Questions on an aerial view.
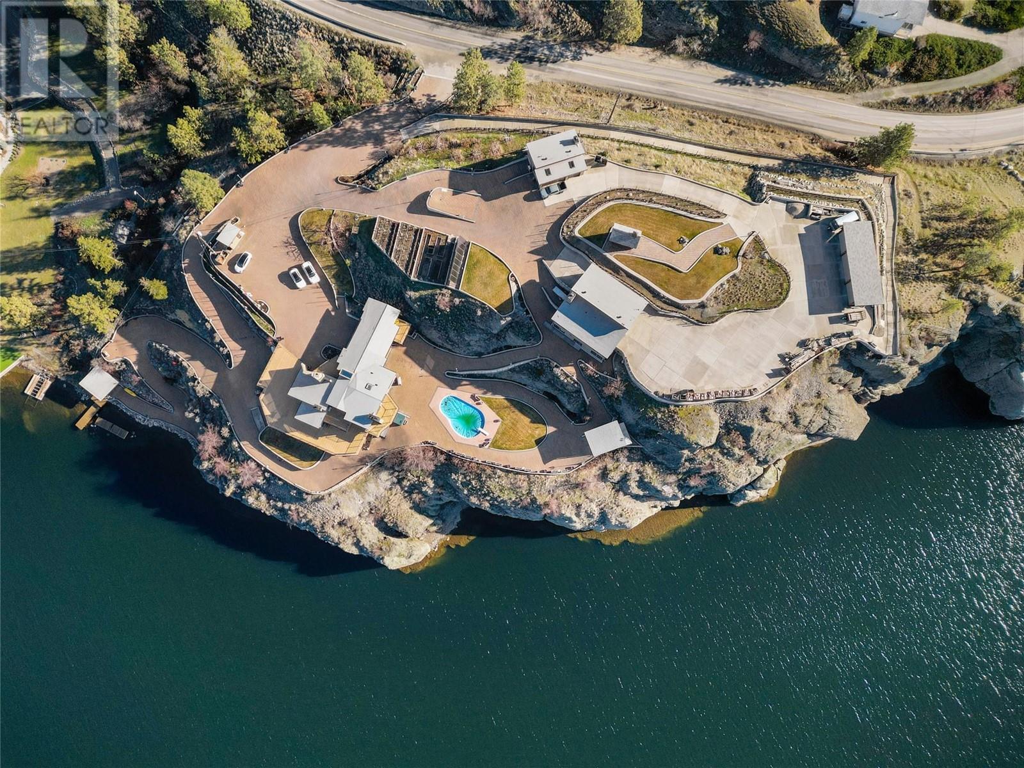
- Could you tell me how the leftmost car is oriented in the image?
diagonally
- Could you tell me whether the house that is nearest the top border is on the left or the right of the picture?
right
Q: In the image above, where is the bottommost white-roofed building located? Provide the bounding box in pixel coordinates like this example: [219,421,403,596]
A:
[584,421,632,456]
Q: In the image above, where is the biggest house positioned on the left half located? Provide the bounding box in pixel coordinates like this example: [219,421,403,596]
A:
[256,297,411,456]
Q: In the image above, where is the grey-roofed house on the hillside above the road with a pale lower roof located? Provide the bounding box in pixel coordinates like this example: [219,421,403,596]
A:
[852,0,929,44]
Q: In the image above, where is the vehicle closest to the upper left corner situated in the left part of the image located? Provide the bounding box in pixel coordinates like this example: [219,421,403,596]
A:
[231,250,252,274]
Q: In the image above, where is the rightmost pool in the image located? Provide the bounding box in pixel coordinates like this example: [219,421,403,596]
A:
[429,391,502,447]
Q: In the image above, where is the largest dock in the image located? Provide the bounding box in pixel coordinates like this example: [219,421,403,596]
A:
[69,398,108,431]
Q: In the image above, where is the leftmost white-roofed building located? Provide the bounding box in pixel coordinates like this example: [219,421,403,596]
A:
[79,366,124,401]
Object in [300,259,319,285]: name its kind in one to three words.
car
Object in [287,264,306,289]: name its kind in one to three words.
car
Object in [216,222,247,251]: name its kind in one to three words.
building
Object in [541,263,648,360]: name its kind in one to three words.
building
